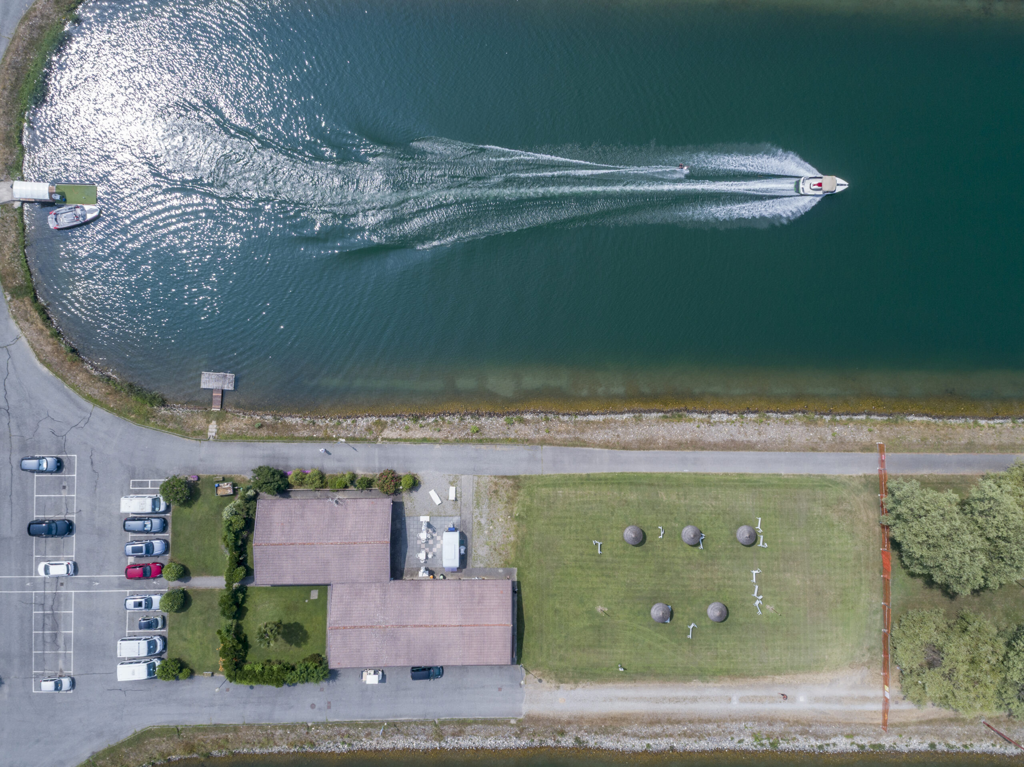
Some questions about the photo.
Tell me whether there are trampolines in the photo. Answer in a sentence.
No, the photo shows no trampoline.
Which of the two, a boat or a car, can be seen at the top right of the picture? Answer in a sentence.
The one visible at the top right of the picture is a boat.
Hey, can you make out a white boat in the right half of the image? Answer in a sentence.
Yes, in the right half of the image there is a white boat.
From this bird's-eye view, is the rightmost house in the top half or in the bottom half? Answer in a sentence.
It is in the bottom half that the rightmost house appears.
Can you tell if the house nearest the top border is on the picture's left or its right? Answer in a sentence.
The house nearest the top border is on the left side of the image.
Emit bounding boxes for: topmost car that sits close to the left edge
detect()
[20,456,63,475]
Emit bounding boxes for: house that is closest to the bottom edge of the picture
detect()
[328,579,514,669]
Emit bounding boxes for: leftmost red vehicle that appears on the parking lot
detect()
[125,562,163,580]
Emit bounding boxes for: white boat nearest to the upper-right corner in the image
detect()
[793,175,849,194]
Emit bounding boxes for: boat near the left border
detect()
[47,204,100,229]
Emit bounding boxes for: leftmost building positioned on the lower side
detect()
[251,497,392,586]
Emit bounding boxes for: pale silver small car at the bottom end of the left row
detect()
[40,675,75,693]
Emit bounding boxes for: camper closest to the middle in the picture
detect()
[442,517,460,579]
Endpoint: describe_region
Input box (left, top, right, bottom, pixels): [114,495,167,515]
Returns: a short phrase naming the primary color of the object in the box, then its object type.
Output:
white vehicle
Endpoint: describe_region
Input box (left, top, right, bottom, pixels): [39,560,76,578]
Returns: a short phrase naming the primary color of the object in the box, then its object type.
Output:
white car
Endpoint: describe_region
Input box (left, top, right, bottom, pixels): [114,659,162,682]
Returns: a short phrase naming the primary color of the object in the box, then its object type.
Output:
white vehicle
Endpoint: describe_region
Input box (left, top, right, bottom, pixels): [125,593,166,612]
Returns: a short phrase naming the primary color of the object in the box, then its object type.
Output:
white car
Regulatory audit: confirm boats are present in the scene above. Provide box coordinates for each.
[793,175,849,194]
[47,204,100,229]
